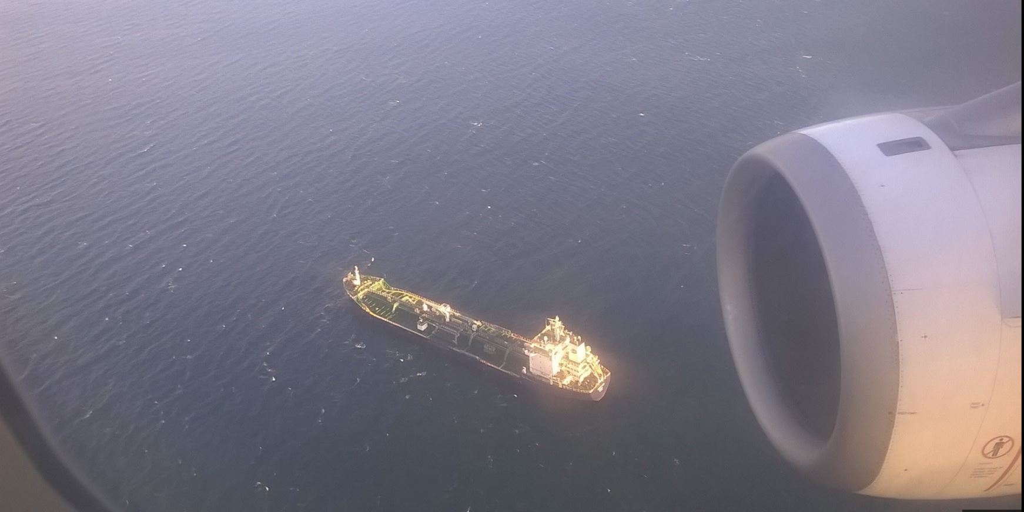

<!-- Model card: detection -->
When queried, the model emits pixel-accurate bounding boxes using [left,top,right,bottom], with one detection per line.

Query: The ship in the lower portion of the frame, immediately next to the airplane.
[343,265,609,398]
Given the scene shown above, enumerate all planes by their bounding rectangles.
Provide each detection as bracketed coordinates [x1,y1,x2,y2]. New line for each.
[716,75,1024,500]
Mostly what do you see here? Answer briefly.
water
